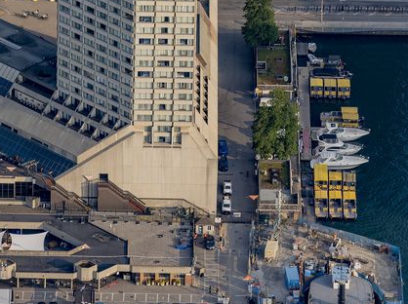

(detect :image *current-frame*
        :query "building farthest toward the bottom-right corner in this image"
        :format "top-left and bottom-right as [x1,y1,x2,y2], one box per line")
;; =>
[258,159,301,213]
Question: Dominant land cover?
buildings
